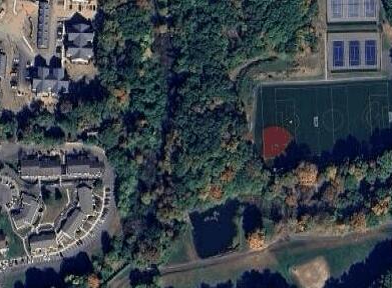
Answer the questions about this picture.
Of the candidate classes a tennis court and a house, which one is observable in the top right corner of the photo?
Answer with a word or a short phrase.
tennis court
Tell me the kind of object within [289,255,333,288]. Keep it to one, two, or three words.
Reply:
baseball field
